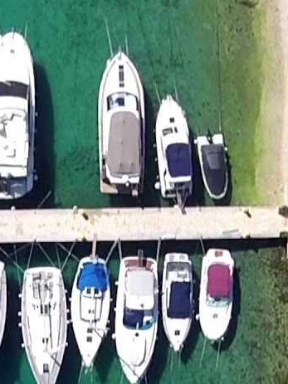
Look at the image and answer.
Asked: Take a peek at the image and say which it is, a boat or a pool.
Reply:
boat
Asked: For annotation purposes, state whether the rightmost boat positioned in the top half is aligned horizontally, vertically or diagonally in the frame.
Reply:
vertically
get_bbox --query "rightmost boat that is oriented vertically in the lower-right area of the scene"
[194,239,235,371]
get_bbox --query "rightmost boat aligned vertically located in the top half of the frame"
[194,98,230,199]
